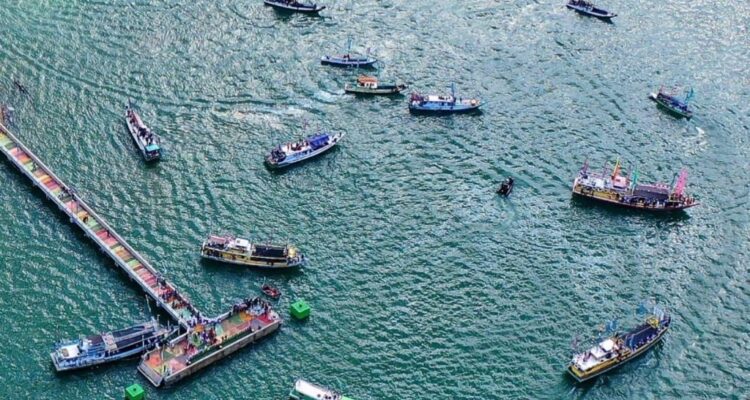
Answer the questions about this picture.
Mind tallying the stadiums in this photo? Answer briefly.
0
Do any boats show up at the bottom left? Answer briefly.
Yes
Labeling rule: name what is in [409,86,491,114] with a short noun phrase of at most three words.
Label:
boat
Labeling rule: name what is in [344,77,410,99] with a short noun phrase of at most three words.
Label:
boat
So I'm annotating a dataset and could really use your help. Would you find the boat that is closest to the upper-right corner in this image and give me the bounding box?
[647,86,695,119]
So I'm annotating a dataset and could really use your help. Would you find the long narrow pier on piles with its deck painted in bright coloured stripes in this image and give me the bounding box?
[0,125,211,332]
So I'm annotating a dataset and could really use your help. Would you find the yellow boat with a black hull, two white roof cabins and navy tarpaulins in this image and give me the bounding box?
[565,303,672,379]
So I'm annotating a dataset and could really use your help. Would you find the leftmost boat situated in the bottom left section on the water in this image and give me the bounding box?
[54,319,180,371]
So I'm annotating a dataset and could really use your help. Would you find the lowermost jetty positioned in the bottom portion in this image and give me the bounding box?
[136,295,280,390]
